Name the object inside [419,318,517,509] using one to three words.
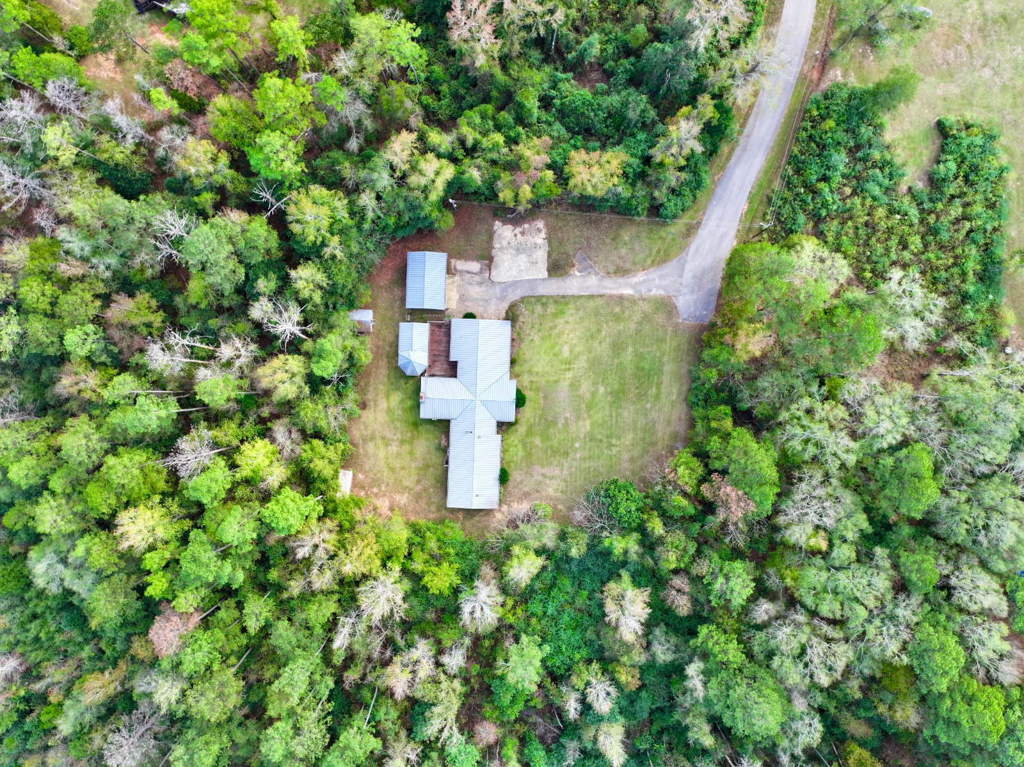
house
